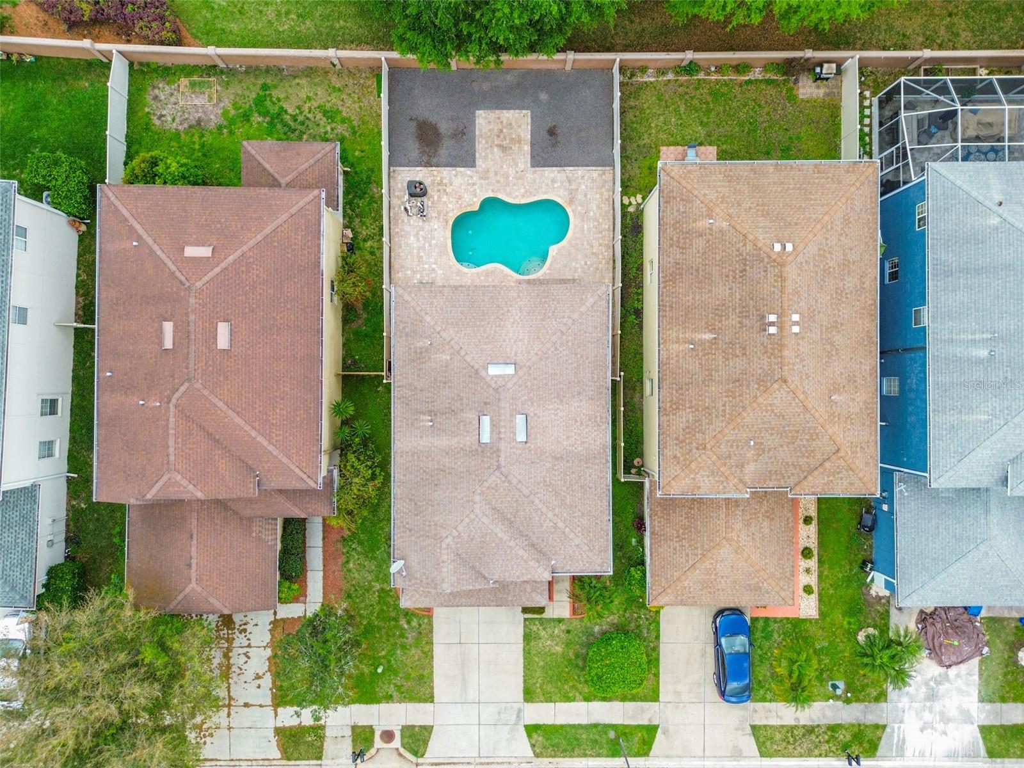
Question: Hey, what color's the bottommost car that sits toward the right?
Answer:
blue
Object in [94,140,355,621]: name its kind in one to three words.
house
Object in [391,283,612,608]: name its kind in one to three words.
house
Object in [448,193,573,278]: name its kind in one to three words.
swimming pool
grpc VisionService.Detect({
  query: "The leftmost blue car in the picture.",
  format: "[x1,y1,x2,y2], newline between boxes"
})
[711,607,756,702]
